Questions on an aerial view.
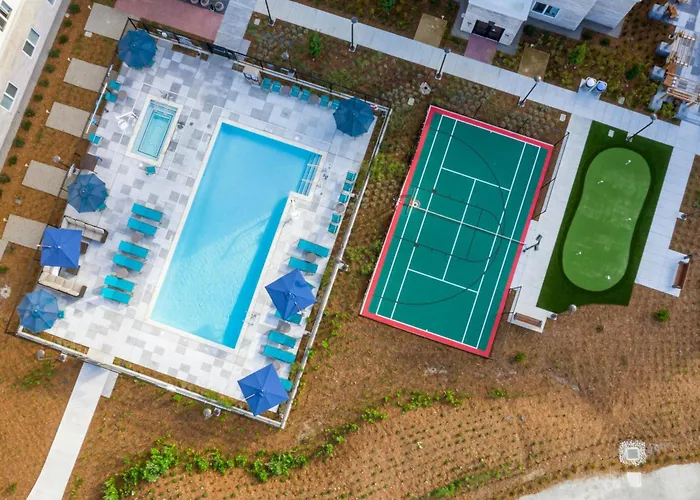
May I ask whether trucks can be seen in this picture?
No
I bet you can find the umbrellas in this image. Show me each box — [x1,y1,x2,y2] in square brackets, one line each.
[335,98,373,135]
[266,269,317,326]
[118,30,158,68]
[38,229,84,268]
[68,174,107,213]
[237,363,289,416]
[18,289,59,330]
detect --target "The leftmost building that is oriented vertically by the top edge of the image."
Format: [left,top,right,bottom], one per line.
[0,0,63,154]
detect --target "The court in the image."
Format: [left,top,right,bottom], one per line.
[360,105,553,356]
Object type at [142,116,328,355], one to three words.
swimming pool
